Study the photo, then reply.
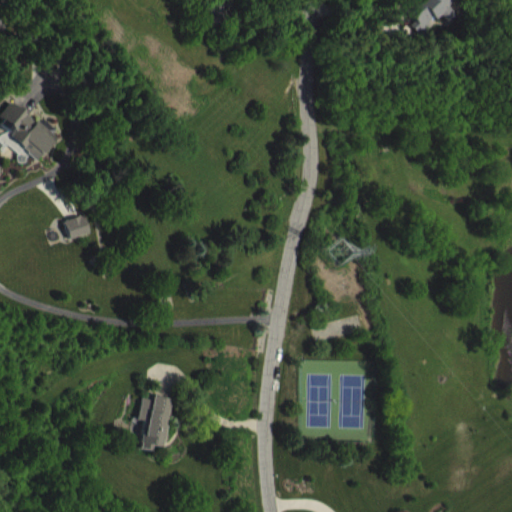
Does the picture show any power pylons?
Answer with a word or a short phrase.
Yes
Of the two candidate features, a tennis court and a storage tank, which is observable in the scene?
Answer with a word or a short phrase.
tennis court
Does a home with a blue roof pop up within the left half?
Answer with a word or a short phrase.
No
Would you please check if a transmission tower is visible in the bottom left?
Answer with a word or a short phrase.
No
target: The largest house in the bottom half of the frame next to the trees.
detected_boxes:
[137,394,172,451]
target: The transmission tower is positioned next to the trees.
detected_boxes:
[328,237,376,266]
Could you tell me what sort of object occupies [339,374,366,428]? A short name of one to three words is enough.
tennis court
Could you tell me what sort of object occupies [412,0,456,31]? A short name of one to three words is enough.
house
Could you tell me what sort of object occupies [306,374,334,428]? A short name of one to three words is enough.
tennis court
